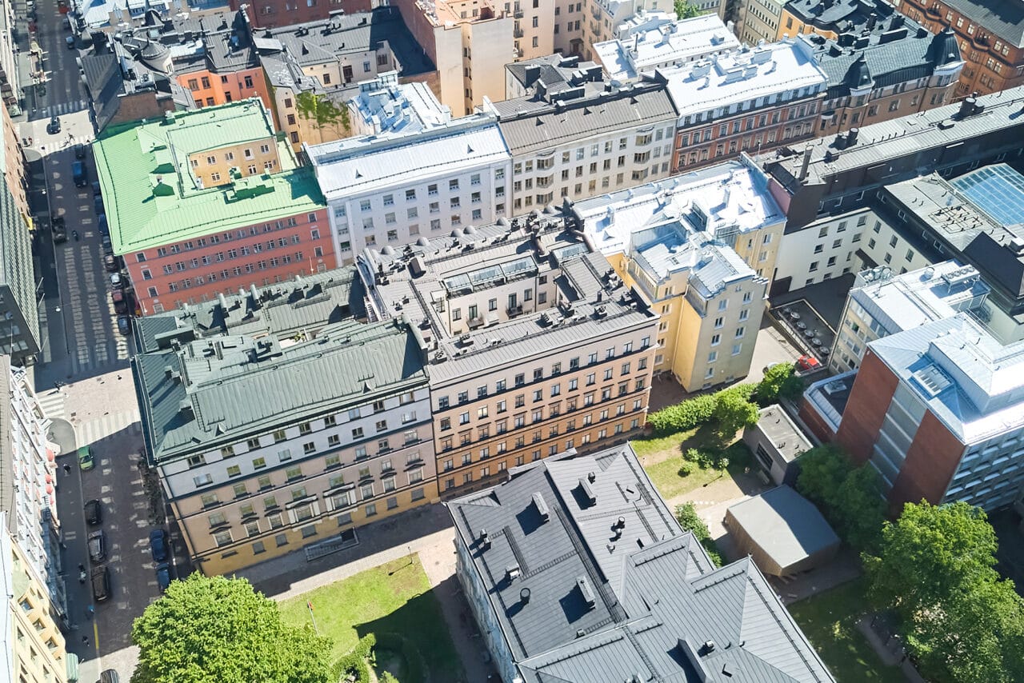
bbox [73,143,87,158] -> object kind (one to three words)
car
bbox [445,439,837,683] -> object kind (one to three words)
building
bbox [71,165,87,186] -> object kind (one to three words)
vehicle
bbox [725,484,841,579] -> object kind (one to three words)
building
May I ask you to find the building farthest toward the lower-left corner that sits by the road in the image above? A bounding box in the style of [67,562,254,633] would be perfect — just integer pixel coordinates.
[0,545,84,683]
